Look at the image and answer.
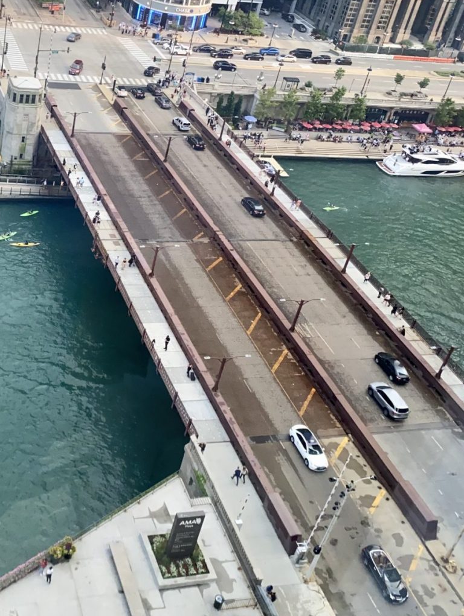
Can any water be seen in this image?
Yes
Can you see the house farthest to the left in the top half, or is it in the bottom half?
top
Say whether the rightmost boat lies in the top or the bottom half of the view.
top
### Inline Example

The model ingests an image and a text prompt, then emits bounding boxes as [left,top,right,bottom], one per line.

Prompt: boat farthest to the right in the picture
[378,144,464,177]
